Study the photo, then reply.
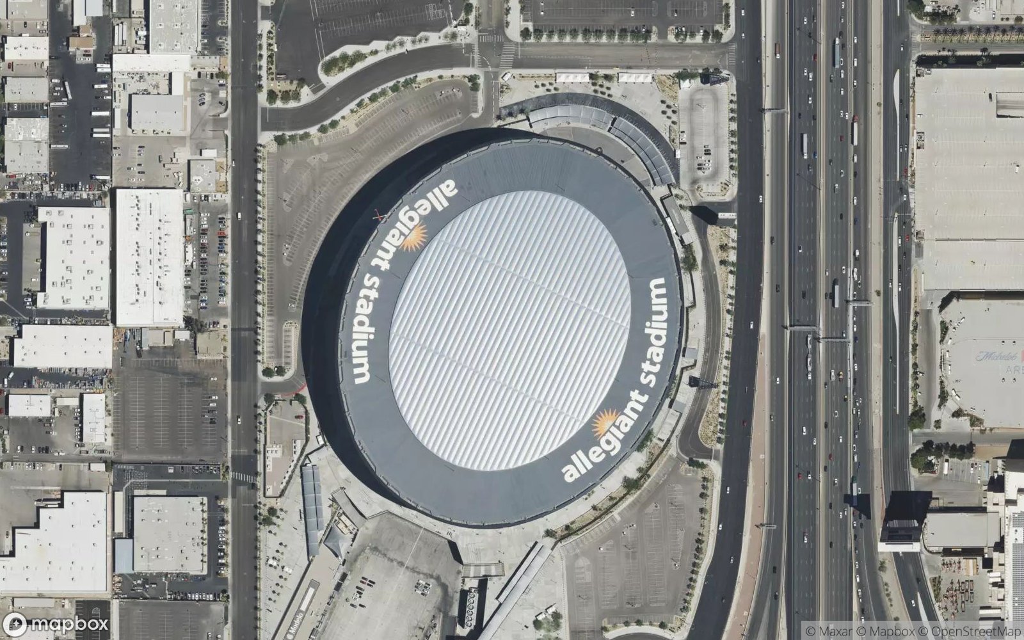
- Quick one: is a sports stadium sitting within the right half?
Yes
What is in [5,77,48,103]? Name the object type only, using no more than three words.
building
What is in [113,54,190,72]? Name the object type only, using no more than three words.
building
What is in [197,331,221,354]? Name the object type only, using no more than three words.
house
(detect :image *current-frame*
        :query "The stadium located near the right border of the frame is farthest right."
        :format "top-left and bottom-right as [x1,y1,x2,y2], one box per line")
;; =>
[942,301,1024,428]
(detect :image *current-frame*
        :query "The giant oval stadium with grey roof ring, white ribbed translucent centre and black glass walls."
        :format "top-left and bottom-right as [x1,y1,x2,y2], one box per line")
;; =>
[334,133,687,531]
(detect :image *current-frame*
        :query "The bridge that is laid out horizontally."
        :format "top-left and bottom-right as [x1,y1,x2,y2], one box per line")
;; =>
[461,563,505,578]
